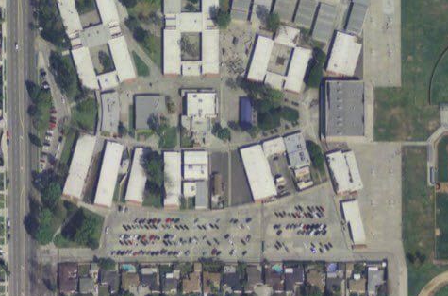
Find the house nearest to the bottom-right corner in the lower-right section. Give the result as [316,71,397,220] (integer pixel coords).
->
[367,264,385,287]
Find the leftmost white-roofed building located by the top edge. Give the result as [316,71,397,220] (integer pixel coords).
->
[59,0,135,93]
